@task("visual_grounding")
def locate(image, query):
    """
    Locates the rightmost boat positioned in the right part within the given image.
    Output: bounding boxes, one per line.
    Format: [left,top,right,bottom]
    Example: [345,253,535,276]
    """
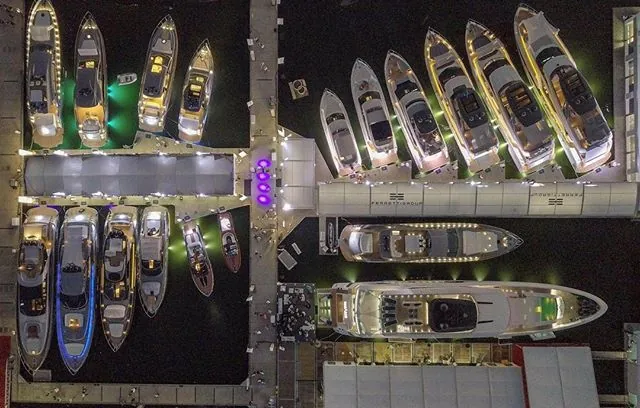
[517,0,610,178]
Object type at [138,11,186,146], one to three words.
boat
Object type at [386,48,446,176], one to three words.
boat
